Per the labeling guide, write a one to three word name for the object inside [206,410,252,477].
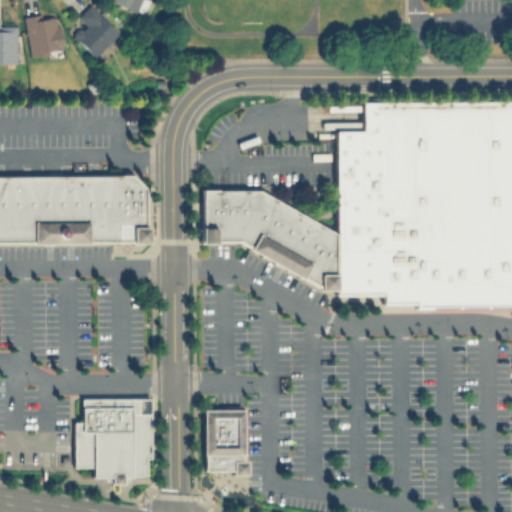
building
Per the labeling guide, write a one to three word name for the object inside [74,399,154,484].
building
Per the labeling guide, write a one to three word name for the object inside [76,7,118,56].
house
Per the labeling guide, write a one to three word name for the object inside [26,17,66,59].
house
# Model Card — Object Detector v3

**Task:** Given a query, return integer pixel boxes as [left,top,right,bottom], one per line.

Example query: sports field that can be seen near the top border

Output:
[176,0,404,51]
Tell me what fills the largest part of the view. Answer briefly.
paved ground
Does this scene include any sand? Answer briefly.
No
